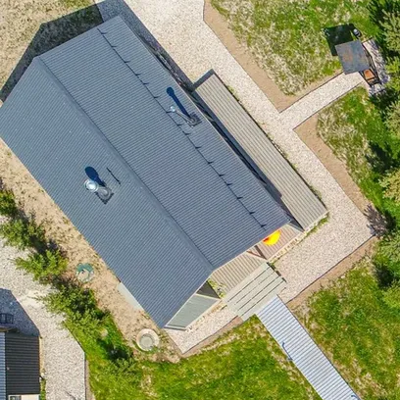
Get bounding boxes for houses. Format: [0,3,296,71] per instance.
[0,328,40,400]
[0,17,330,328]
